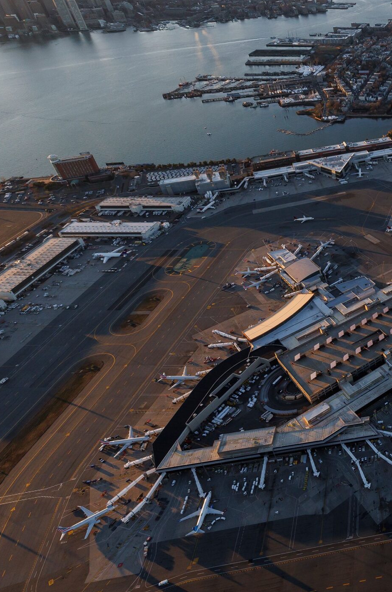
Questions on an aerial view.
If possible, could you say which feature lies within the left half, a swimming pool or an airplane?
airplane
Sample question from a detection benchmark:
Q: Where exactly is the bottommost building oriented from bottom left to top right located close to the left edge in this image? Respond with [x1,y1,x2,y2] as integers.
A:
[0,237,87,300]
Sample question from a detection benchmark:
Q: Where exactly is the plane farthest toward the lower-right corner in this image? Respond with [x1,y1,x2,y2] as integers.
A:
[177,491,221,533]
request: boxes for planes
[244,280,268,289]
[292,215,315,223]
[196,202,214,211]
[316,236,335,250]
[177,491,221,533]
[59,505,118,537]
[99,424,152,455]
[92,244,133,263]
[236,266,259,276]
[155,361,199,389]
